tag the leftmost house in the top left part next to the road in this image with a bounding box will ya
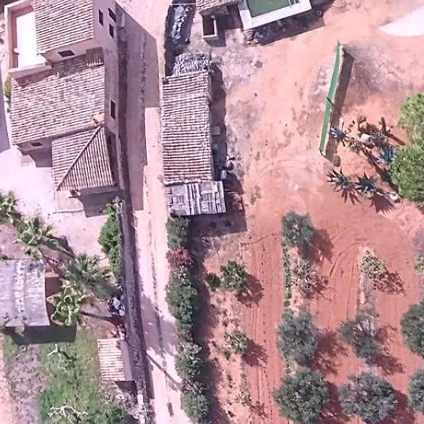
[3,0,119,200]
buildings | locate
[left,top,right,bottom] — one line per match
[3,0,119,200]
[96,340,130,382]
[160,69,215,186]
[0,258,57,330]
[196,0,240,16]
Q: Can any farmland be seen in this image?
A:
Yes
